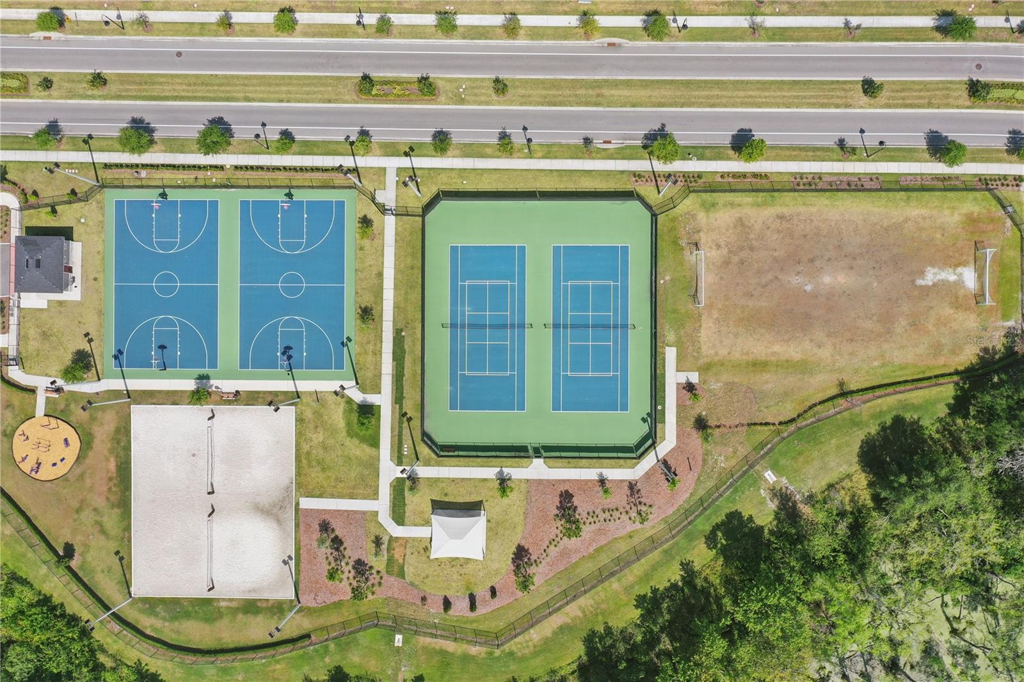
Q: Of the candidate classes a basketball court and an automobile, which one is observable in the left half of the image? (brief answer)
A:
basketball court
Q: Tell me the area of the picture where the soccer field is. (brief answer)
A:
right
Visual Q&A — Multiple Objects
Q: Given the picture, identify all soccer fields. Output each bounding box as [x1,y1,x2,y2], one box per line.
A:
[686,207,1009,374]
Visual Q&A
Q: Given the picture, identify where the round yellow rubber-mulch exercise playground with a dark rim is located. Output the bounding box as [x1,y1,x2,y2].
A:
[12,415,81,482]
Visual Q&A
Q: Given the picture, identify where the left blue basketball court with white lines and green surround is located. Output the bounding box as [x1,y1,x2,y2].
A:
[104,188,229,380]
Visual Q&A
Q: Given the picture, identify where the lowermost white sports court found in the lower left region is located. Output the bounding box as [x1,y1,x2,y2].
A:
[130,405,295,600]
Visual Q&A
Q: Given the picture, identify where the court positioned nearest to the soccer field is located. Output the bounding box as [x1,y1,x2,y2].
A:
[539,201,652,455]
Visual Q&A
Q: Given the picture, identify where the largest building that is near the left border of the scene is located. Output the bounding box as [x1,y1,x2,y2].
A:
[15,236,71,293]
